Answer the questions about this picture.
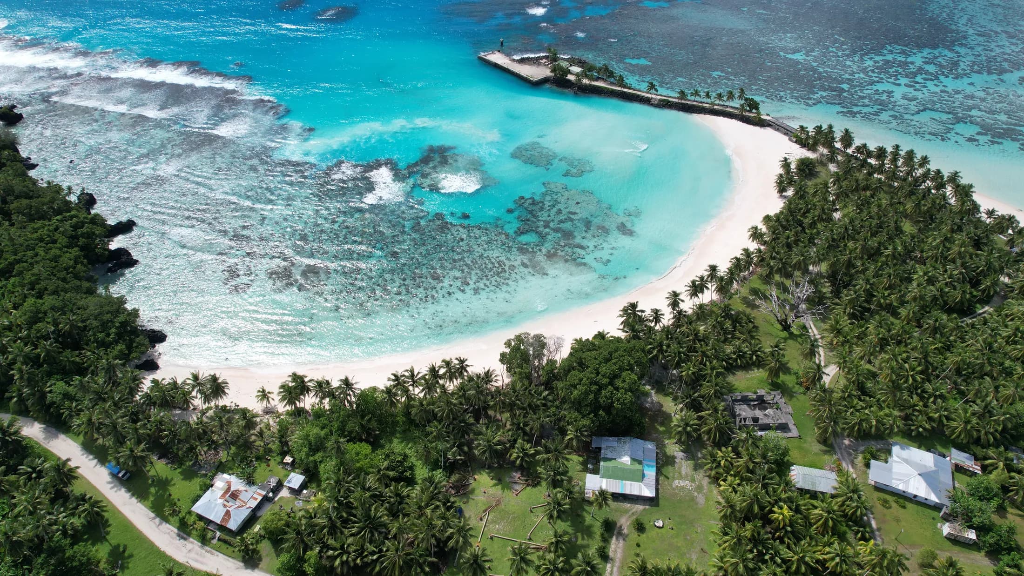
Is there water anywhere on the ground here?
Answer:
Yes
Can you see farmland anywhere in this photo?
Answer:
No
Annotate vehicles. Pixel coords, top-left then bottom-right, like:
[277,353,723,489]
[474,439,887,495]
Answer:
[104,459,131,478]
[926,444,951,459]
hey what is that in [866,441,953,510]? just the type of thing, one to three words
house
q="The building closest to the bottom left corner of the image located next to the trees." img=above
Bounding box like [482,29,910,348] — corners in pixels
[191,473,267,543]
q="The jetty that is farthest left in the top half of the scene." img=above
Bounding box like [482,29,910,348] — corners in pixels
[479,50,556,84]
